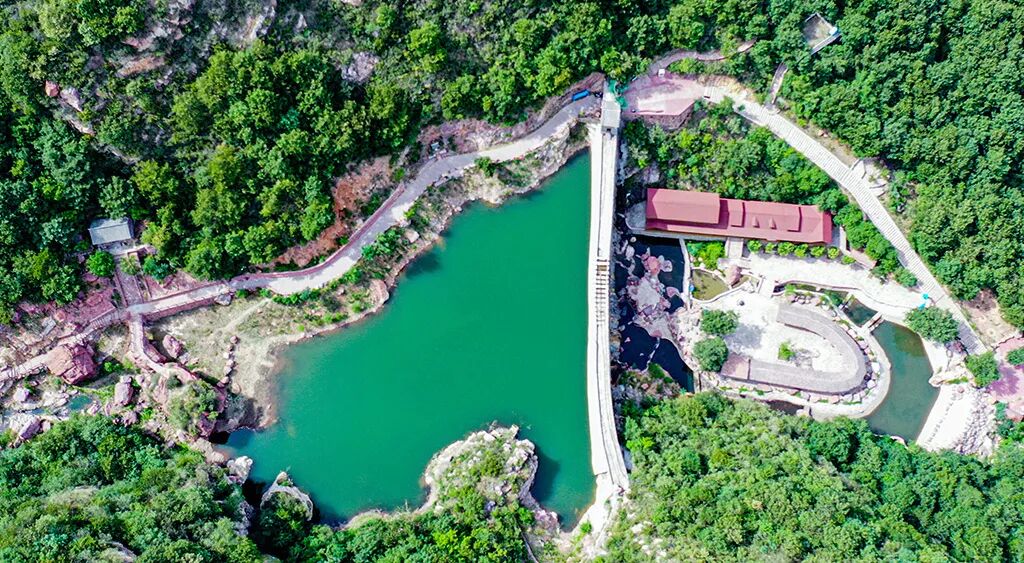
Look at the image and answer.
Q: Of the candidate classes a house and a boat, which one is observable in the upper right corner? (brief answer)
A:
house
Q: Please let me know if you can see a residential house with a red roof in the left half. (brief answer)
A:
No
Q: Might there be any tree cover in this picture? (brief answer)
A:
Yes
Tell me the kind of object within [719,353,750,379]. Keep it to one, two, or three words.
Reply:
building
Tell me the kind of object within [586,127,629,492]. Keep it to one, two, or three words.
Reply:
dam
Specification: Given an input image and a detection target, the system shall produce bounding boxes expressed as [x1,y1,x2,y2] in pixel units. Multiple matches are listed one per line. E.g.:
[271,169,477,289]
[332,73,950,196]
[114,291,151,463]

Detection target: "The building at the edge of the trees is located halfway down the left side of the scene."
[85,215,134,245]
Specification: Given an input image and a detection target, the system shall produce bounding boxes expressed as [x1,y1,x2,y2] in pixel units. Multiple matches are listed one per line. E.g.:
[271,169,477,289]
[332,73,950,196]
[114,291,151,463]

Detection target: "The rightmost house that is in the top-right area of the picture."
[798,12,841,53]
